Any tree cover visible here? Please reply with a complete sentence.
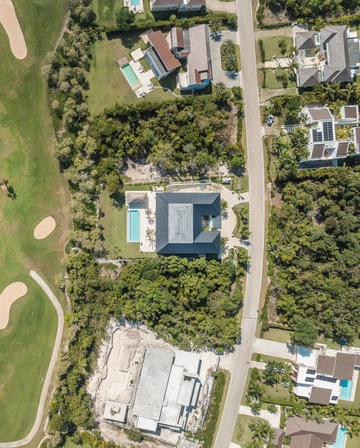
Yes, the picture does contain tree cover.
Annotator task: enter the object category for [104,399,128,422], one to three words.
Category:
shed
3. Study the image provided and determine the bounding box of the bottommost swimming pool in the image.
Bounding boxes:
[334,426,347,448]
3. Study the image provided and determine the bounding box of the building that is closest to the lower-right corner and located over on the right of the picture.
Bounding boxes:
[283,415,339,448]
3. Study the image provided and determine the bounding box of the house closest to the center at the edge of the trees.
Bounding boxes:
[156,193,221,255]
